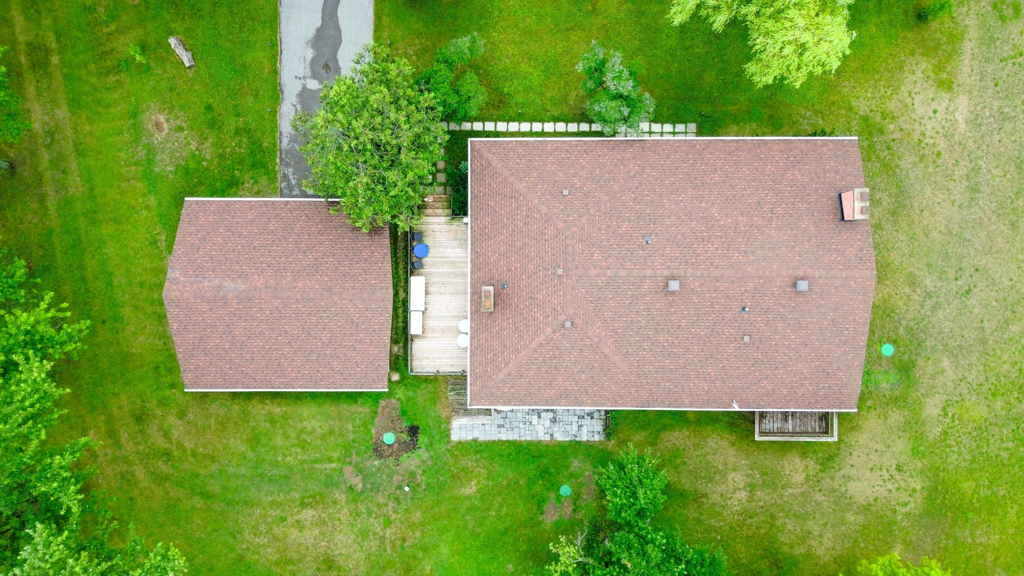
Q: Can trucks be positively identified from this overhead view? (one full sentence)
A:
No, no truck can be seen from above.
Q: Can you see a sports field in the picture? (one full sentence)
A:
No, there is no sports field in the image.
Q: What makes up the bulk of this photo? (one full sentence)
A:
What you mostly see from above here is grass.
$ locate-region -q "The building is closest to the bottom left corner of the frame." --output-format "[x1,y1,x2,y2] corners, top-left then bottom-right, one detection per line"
[162,198,394,391]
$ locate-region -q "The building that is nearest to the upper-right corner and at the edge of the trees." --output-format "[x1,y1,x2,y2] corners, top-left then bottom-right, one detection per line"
[467,137,877,412]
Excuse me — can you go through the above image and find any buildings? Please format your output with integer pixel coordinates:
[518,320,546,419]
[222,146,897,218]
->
[162,198,394,391]
[467,137,877,412]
